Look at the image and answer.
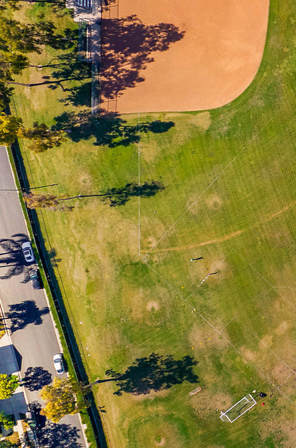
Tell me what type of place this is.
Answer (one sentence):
What you see here is a sports ground.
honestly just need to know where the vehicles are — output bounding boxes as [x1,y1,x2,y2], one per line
[51,353,65,375]
[21,241,34,263]
[27,267,42,290]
